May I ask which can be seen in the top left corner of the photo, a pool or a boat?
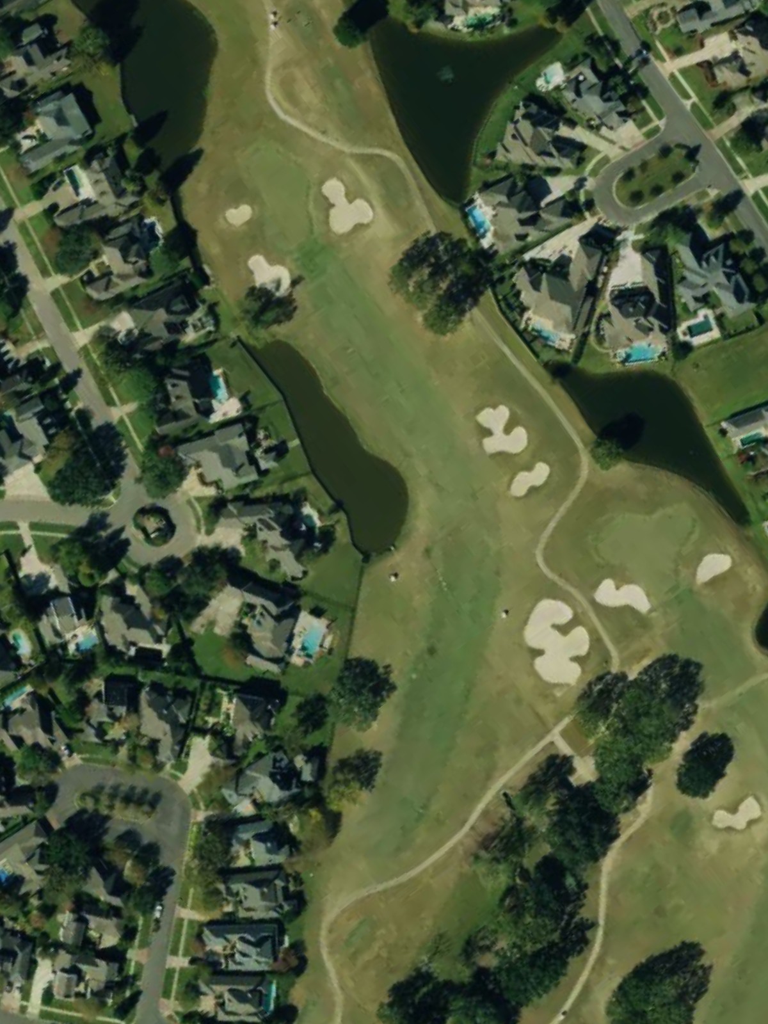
pool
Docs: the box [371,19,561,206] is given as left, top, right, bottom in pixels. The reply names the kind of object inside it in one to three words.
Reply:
pond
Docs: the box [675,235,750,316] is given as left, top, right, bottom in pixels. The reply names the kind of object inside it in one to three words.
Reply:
house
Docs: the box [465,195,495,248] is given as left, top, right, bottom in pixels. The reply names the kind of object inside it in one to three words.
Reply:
swimming pool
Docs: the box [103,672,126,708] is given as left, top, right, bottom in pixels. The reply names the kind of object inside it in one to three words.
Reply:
house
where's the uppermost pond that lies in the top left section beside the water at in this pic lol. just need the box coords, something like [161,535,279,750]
[70,0,217,165]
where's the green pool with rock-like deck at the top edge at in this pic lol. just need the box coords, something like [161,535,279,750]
[451,9,502,31]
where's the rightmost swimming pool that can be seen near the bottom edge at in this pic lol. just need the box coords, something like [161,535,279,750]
[262,979,276,1014]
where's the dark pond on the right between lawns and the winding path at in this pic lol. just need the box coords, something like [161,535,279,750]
[556,369,748,523]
